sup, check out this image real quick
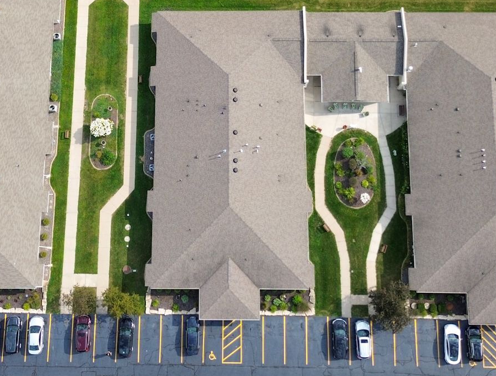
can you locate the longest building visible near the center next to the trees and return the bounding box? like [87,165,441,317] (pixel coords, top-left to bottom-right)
[145,11,314,320]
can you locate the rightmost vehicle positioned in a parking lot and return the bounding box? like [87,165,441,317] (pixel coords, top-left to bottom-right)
[464,324,485,362]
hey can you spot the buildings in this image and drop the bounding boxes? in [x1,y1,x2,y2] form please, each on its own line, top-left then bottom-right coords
[0,0,60,288]
[145,11,314,320]
[403,12,496,325]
